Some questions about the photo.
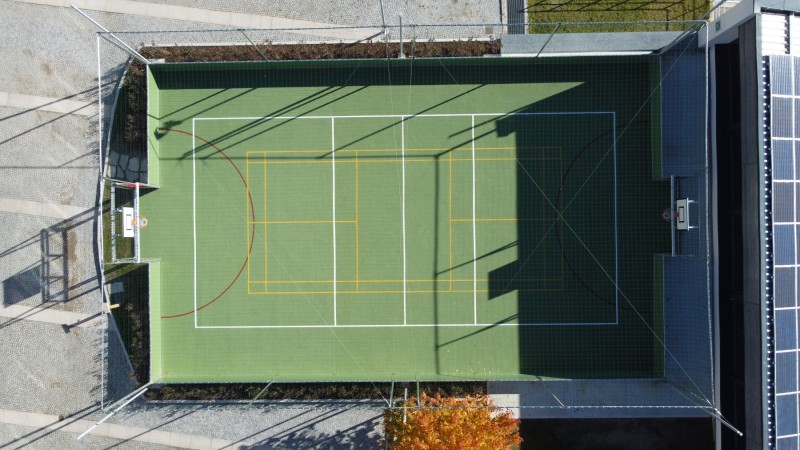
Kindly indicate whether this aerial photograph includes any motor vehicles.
No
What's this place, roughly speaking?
sports ground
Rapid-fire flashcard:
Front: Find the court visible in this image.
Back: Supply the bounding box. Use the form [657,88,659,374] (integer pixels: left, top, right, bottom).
[138,60,674,376]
